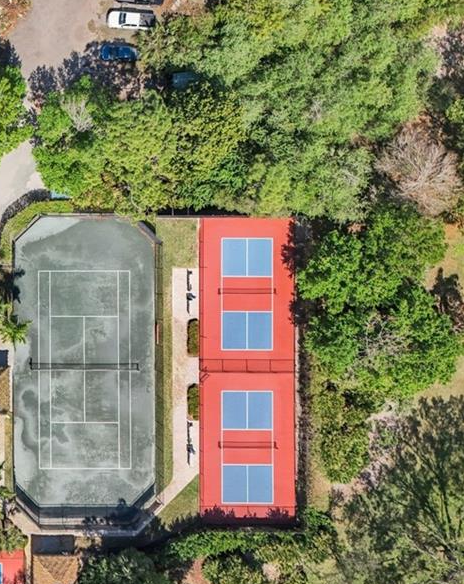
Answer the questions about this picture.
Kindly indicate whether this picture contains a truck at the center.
No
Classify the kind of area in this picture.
sports ground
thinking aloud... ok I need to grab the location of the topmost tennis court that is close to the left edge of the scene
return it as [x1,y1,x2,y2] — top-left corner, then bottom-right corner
[14,216,155,522]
